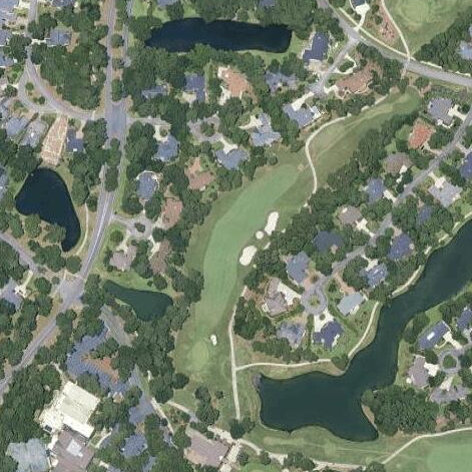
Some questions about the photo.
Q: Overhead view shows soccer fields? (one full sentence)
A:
No, I find no soccer field anywhere in the image.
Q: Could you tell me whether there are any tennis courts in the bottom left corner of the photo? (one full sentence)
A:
Yes, a tennis court shows up in the bottom left corner of the photo.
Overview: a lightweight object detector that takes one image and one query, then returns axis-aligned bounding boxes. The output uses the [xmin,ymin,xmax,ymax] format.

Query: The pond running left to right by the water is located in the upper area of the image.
[145,19,291,53]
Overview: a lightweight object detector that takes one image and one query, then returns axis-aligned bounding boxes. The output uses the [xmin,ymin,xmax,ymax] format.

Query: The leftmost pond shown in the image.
[16,168,81,251]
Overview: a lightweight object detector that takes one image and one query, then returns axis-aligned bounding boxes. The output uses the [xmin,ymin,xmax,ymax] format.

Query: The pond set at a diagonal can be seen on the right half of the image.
[259,221,472,442]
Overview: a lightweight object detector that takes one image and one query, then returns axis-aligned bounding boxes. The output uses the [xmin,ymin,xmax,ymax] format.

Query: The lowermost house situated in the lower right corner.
[430,383,467,405]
